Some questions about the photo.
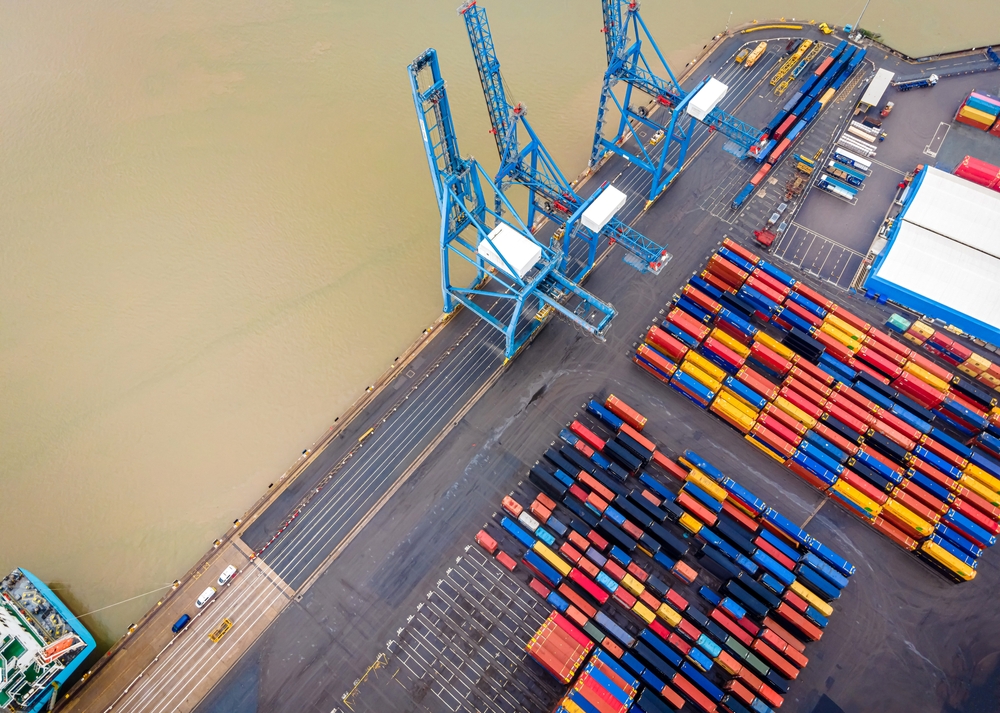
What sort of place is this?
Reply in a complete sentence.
It's a port.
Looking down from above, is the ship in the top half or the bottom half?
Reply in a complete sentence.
The bottom half of the photo is where the ship is.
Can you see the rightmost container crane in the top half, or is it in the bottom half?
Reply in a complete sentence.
It is in the top half that the rightmost container crane appears.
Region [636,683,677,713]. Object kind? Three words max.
shipping container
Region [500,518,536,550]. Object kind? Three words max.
shipping container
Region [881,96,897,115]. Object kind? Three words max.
work vehicle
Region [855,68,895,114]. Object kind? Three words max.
shed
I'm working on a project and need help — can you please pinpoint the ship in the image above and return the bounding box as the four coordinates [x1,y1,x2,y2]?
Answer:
[0,570,100,713]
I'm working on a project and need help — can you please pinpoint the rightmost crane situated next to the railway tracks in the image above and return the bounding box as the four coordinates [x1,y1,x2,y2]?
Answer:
[583,0,777,208]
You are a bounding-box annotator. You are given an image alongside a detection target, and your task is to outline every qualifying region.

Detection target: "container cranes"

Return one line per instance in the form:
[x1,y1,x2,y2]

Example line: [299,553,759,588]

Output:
[583,0,777,208]
[447,0,680,304]
[399,42,624,367]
